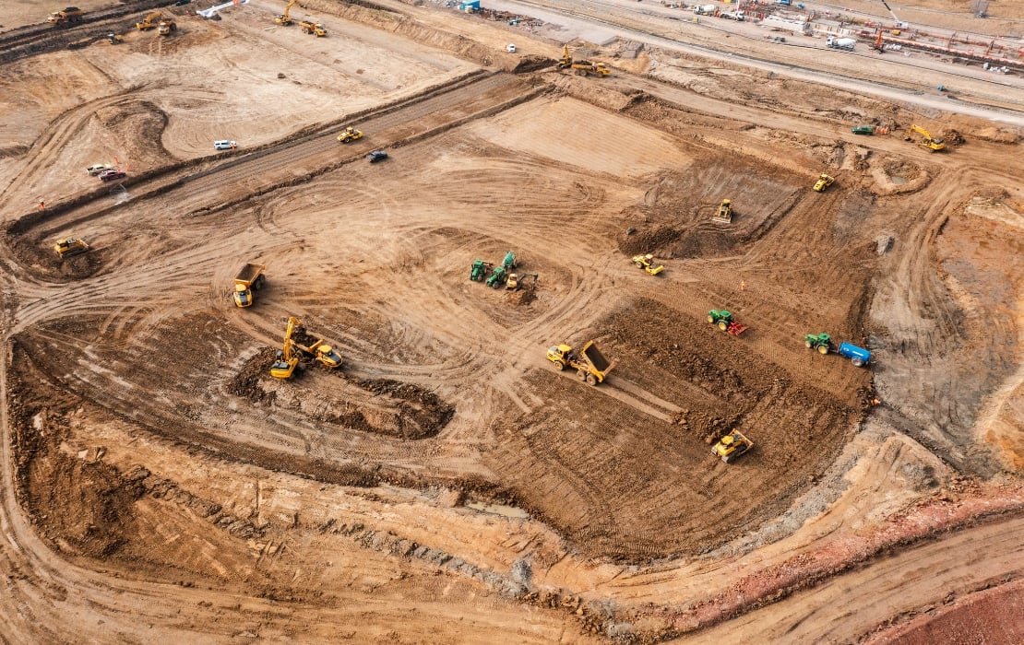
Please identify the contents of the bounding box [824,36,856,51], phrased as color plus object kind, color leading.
white vehicle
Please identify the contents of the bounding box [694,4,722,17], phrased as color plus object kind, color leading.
white vehicle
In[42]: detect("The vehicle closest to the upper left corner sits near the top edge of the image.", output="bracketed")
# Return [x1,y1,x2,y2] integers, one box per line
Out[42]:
[45,6,85,25]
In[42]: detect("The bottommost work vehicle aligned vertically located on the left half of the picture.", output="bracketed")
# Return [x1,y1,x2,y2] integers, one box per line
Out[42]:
[271,312,300,380]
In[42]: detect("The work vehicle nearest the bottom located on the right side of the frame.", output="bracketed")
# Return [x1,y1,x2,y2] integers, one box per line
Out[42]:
[710,429,758,466]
